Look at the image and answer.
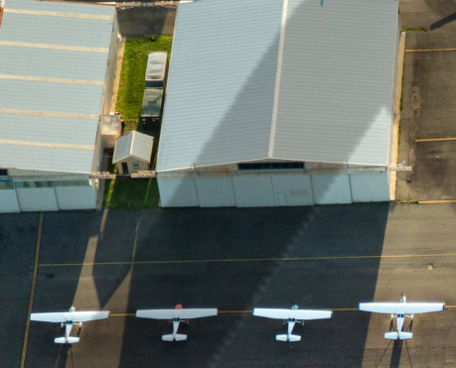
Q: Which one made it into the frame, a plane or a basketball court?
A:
plane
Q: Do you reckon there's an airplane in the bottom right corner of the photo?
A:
Yes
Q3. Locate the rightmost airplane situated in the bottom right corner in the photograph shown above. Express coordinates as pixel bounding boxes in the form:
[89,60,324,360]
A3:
[359,293,445,339]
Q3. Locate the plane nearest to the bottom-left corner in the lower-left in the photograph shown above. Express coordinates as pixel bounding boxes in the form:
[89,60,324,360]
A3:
[30,305,109,345]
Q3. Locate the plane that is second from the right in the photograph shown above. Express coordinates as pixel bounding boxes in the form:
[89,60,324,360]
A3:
[254,302,333,343]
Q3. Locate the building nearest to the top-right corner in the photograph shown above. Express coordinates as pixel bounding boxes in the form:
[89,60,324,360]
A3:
[131,0,411,208]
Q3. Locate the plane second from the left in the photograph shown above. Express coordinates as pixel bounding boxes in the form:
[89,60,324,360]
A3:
[136,299,218,343]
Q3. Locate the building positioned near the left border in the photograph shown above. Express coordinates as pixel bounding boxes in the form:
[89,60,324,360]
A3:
[0,0,146,213]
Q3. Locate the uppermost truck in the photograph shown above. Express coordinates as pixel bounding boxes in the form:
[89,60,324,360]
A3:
[146,52,169,97]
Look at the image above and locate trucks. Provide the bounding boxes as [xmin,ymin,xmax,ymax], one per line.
[146,52,169,97]
[142,90,163,138]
